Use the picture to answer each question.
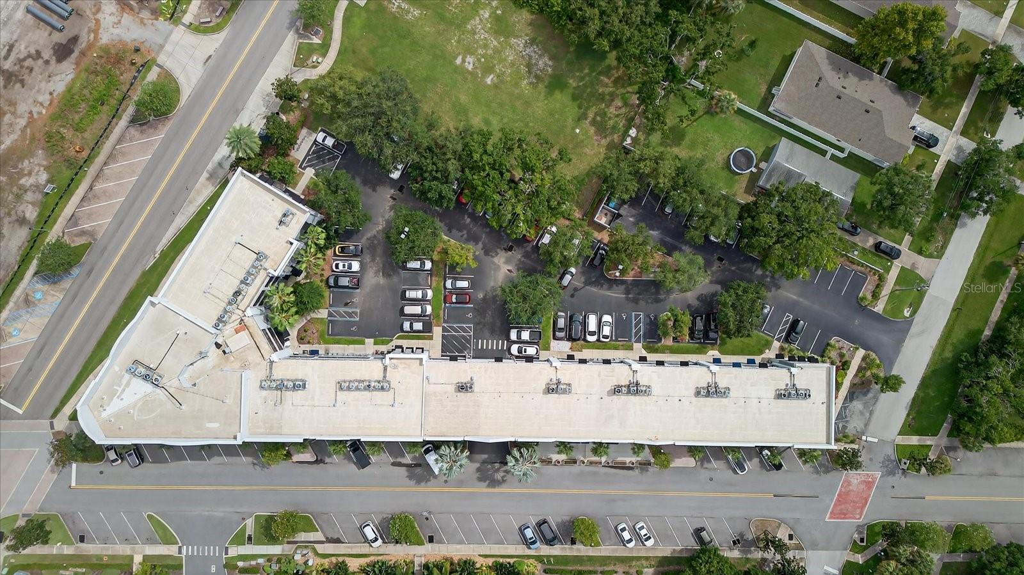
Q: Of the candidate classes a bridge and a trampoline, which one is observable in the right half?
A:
trampoline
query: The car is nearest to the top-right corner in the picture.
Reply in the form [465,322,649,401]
[911,126,939,147]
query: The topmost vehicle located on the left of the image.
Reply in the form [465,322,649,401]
[315,131,347,155]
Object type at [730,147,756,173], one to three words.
trampoline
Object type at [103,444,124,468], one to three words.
car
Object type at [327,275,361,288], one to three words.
vehicle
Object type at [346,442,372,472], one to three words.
vehicle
